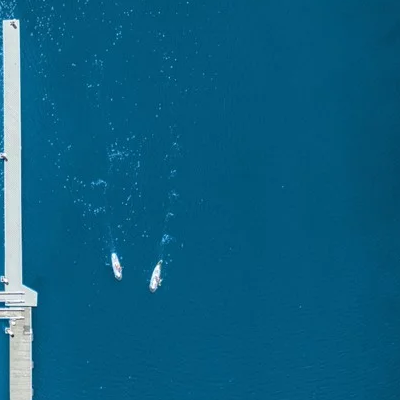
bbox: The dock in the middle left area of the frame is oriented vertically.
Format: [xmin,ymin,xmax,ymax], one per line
[3,20,37,306]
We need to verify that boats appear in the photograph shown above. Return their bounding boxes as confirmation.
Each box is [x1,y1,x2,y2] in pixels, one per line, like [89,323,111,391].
[113,254,122,280]
[151,262,161,291]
